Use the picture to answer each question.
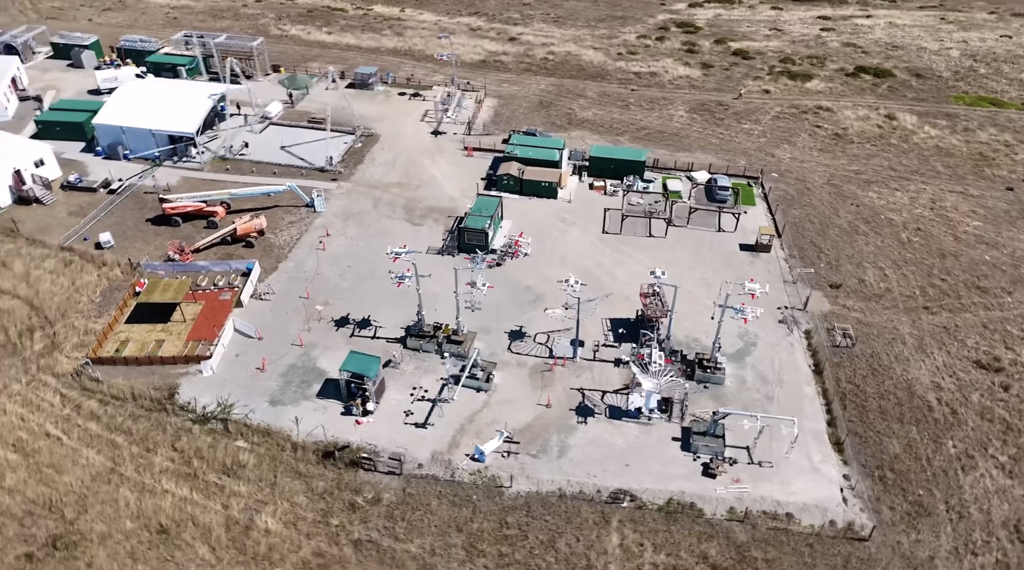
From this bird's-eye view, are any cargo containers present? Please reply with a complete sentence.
Yes, the frame does contain a cargo container.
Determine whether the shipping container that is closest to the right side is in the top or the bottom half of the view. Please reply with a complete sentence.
You can find the shipping container that is closest to the right side in the top half.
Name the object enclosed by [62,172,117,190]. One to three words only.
trailer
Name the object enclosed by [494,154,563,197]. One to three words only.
shed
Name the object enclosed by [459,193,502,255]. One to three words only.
shipping container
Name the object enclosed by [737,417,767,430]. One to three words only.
airplane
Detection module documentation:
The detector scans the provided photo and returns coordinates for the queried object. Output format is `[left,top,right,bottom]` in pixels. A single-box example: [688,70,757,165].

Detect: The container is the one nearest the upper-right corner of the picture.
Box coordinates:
[586,142,647,180]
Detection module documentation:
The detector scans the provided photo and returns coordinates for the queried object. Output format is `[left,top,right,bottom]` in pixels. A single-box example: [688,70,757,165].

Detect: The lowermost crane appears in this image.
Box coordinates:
[708,406,799,456]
